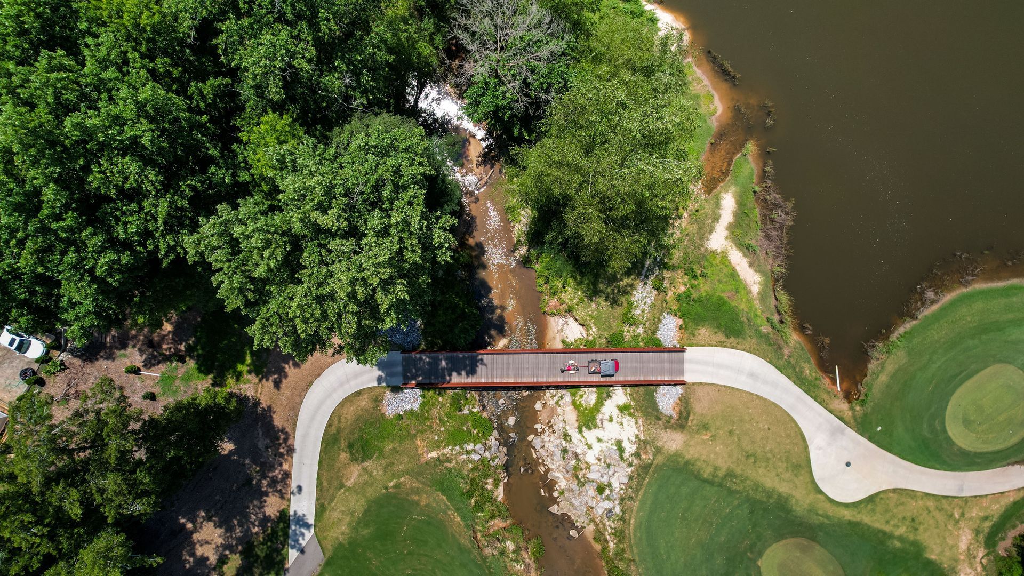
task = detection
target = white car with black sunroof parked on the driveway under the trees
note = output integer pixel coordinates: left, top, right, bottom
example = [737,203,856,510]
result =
[0,327,43,359]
